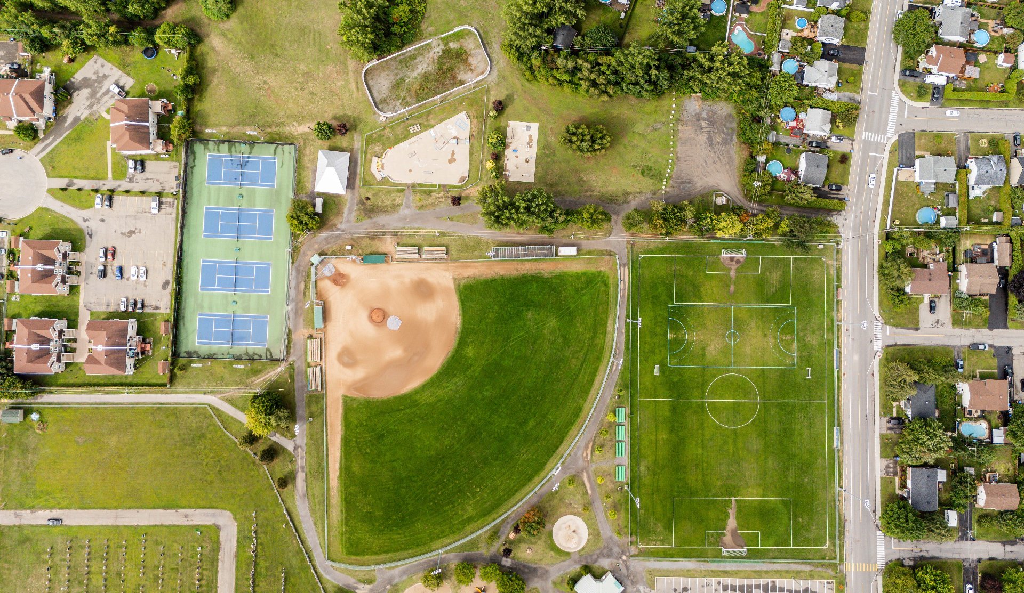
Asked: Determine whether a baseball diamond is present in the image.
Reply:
Yes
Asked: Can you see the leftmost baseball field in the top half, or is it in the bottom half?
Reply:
bottom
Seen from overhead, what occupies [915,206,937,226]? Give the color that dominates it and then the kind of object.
blue swimming pool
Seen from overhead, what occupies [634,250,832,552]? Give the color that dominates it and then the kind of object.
green soccer field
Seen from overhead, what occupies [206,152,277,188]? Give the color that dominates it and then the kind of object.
blue tennis court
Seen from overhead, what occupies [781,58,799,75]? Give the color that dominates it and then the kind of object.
blue swimming pool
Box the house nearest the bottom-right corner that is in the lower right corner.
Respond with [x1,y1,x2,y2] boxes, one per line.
[979,483,1024,511]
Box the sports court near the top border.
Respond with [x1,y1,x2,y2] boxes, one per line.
[361,25,492,117]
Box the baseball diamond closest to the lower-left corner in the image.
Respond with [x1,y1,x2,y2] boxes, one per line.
[319,256,615,556]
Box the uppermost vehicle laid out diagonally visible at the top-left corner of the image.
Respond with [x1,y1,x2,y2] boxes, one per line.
[110,84,127,97]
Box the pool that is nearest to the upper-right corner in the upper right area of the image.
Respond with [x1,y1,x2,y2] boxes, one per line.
[972,30,989,47]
